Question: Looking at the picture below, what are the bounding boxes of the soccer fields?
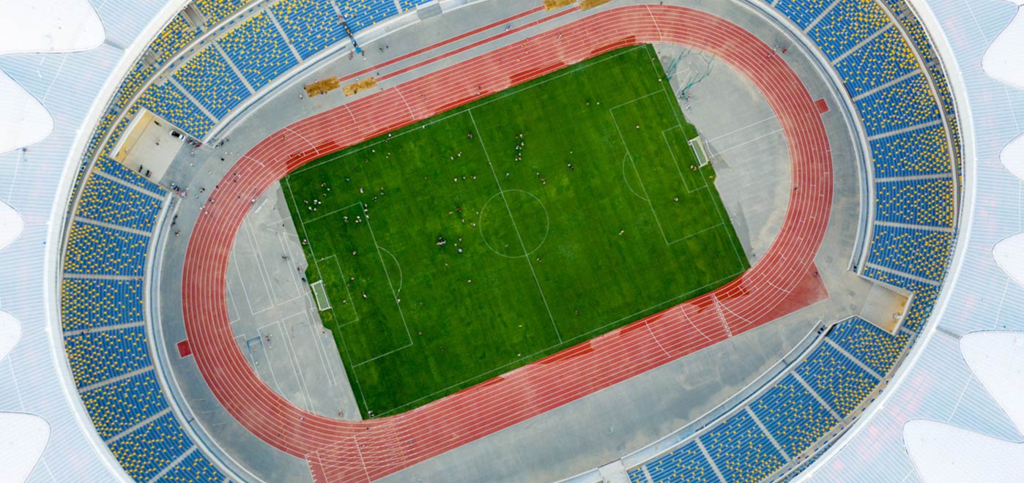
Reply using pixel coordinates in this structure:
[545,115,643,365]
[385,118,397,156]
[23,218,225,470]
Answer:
[279,43,752,421]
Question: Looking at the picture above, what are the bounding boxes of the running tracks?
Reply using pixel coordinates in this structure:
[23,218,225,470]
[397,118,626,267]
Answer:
[176,5,834,483]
